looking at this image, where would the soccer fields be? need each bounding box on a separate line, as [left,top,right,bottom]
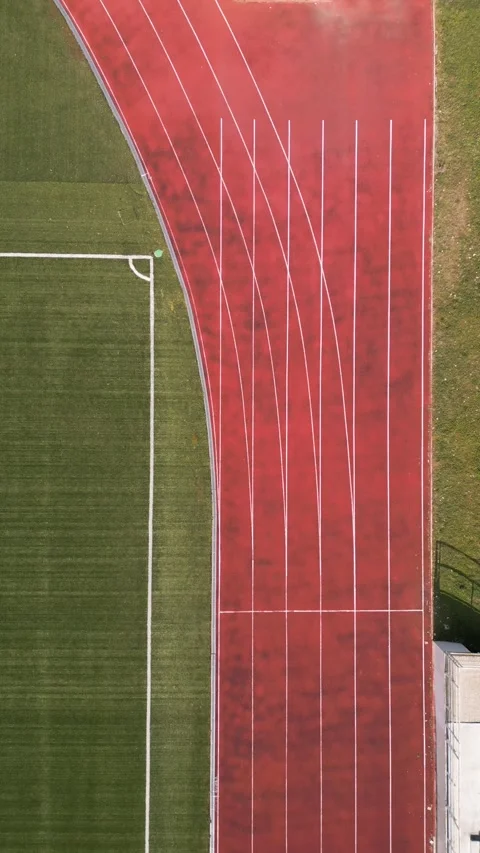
[0,0,212,853]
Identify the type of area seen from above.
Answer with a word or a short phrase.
sports ground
